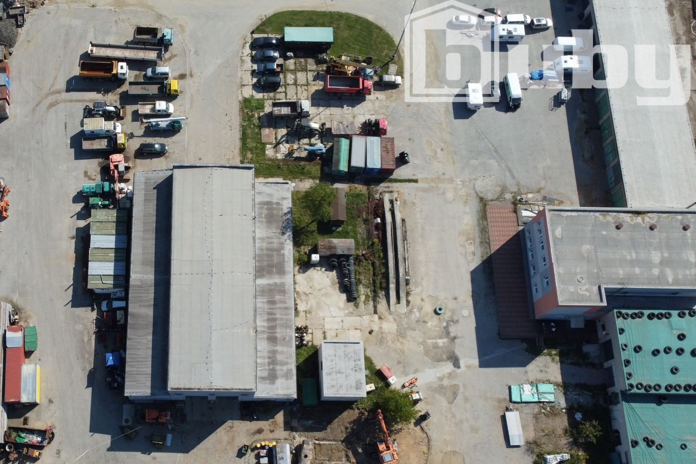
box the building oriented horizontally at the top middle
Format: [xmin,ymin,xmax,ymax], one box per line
[283,28,333,51]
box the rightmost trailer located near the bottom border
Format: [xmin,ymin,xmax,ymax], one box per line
[502,402,526,450]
